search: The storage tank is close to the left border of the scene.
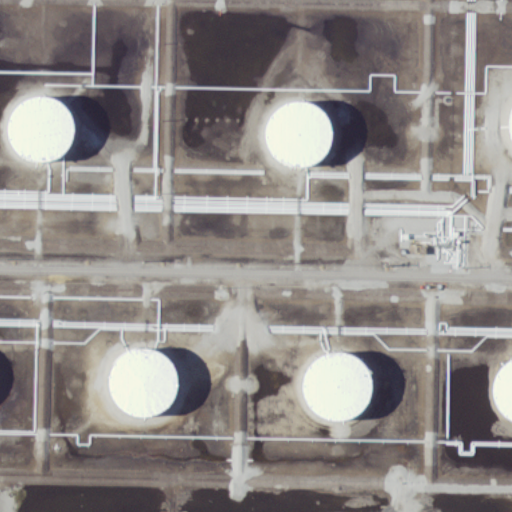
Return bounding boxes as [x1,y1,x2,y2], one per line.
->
[7,94,77,164]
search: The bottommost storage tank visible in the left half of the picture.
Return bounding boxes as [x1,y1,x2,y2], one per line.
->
[107,347,180,419]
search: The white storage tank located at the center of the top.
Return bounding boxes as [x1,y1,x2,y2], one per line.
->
[264,99,334,169]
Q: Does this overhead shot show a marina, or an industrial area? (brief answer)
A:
industrial area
